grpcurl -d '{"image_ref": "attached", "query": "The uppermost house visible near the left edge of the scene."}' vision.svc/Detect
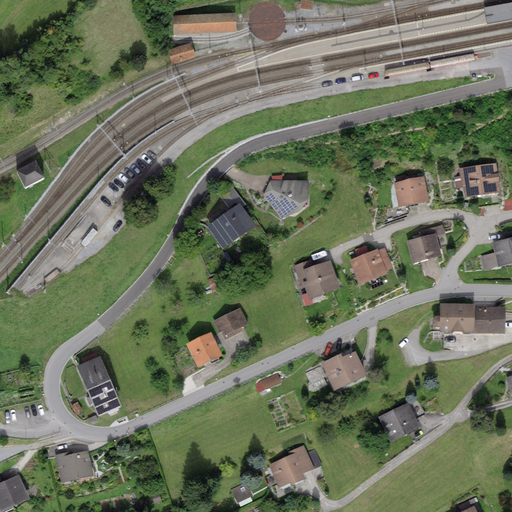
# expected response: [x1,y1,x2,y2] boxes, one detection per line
[17,160,45,188]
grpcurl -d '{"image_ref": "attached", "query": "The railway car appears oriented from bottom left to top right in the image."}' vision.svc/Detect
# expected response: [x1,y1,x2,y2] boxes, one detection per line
[44,268,62,283]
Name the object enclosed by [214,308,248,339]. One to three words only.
house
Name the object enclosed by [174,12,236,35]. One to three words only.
shed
